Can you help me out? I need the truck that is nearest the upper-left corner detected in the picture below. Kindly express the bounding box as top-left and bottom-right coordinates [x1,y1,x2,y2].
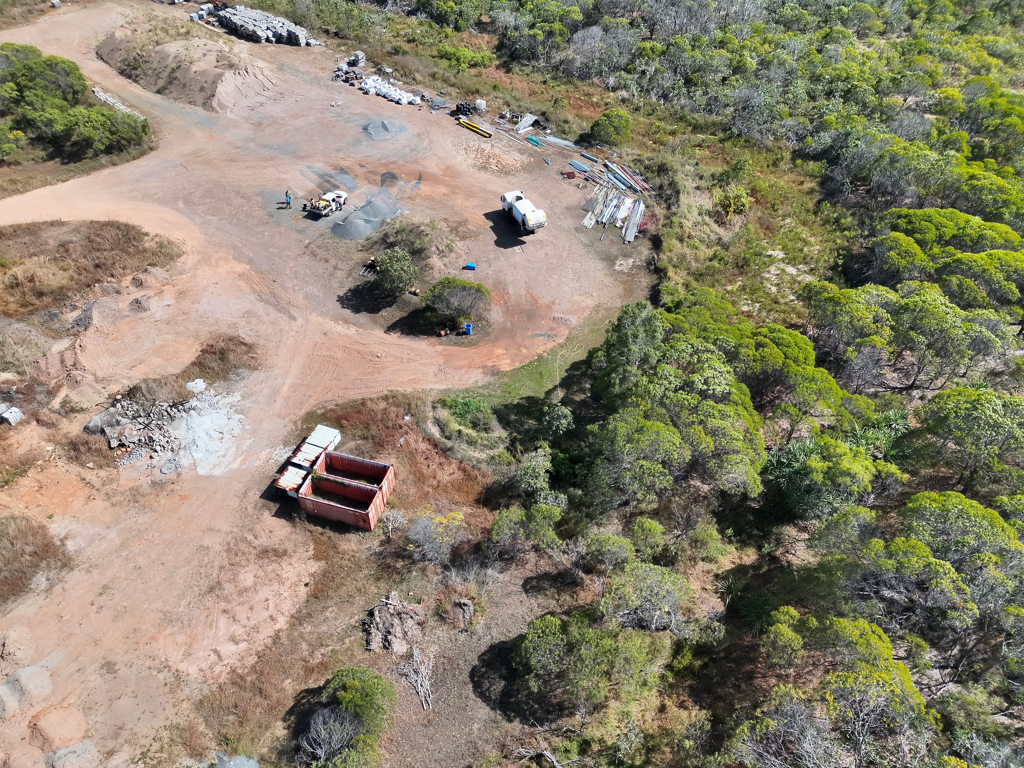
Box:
[311,191,349,217]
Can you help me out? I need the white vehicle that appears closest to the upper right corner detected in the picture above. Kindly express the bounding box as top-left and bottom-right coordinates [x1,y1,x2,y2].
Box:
[501,193,543,235]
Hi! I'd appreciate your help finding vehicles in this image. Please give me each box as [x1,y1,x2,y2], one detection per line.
[311,191,349,217]
[501,193,543,235]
